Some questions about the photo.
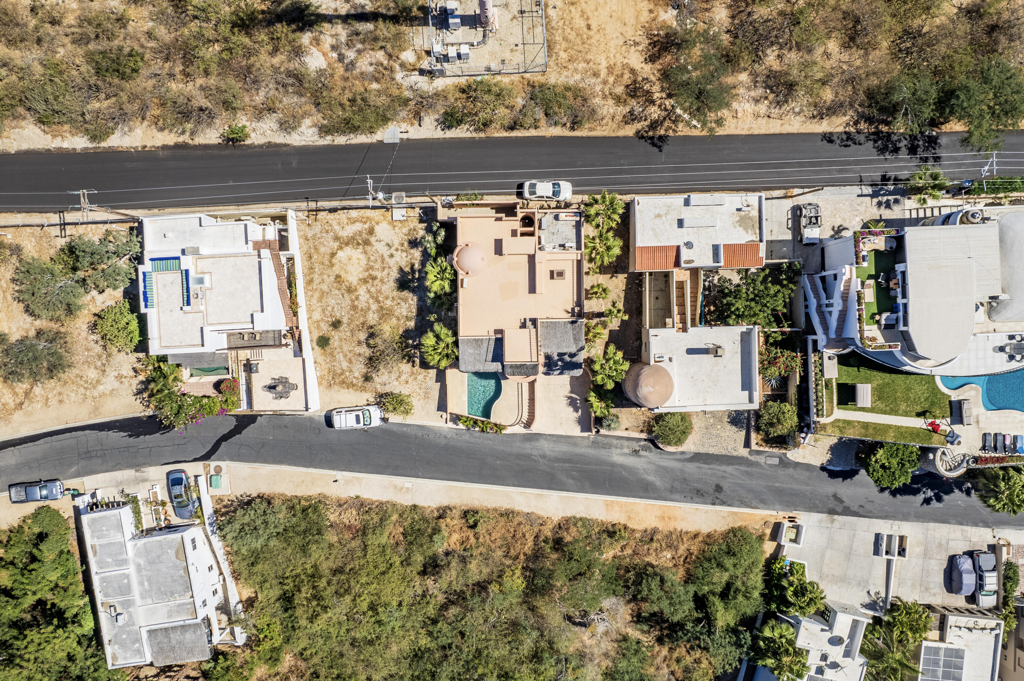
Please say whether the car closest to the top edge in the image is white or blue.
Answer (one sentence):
The car closest to the top edge is white.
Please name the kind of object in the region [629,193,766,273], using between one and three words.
house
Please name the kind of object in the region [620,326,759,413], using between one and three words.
house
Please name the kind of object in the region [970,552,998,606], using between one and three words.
car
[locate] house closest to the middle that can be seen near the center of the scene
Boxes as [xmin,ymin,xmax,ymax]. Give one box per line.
[449,210,586,383]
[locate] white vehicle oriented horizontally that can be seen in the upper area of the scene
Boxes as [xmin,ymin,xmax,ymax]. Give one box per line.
[524,179,571,201]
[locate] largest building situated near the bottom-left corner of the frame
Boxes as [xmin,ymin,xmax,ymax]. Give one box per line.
[73,484,243,670]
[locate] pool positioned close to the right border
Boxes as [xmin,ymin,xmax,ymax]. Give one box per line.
[936,366,1024,416]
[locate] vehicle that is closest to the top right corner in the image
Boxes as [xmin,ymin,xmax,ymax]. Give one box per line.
[797,202,823,246]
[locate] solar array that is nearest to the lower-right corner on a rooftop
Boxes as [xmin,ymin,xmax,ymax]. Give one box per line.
[913,644,963,681]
